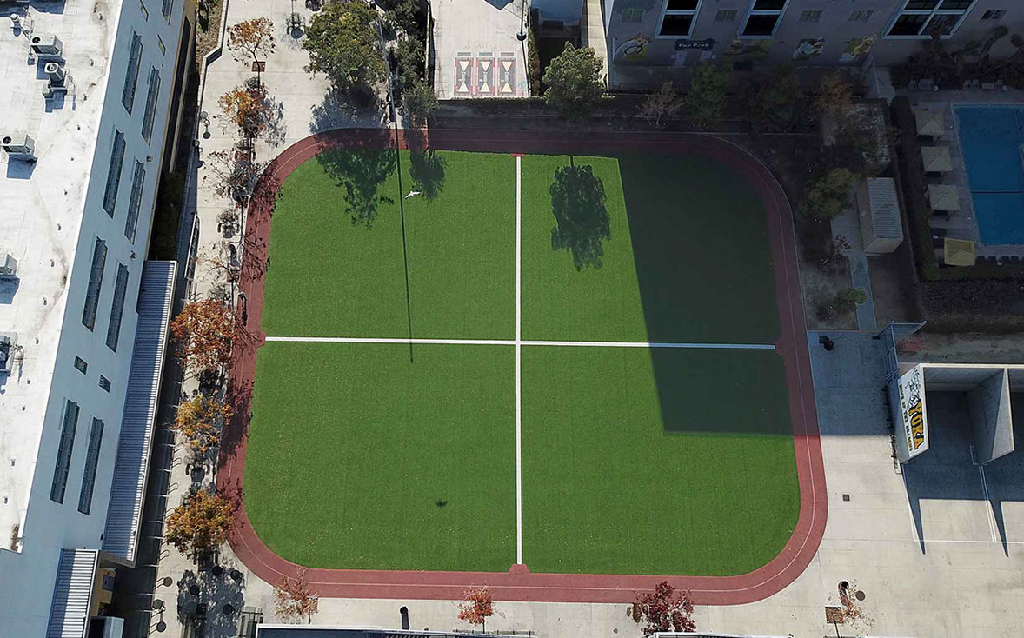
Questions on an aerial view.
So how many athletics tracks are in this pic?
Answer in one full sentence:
The picture shows 1 athletics track.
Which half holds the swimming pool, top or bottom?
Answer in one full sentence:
You can find the swimming pool in the top half.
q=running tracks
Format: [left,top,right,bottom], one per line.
[212,127,827,605]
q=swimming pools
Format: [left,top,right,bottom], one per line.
[949,103,1024,249]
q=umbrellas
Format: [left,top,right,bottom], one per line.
[912,109,947,138]
[919,147,953,178]
[940,238,977,270]
[925,186,962,217]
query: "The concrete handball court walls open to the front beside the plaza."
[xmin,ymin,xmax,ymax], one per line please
[893,364,1024,542]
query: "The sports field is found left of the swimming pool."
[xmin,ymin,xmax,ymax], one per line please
[242,150,799,574]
